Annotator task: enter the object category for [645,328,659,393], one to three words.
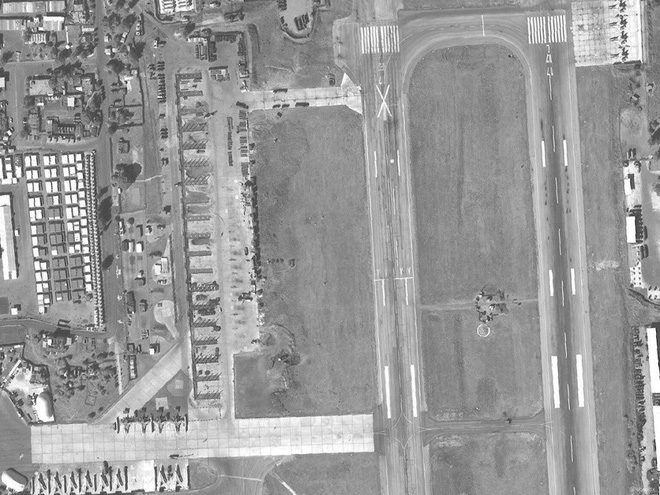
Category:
building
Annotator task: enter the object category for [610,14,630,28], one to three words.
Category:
airplane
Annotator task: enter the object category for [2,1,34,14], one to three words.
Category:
building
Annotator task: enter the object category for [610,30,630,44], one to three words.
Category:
airplane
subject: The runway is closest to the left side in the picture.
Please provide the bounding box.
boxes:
[358,0,432,495]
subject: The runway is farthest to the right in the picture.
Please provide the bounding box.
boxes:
[520,0,600,495]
